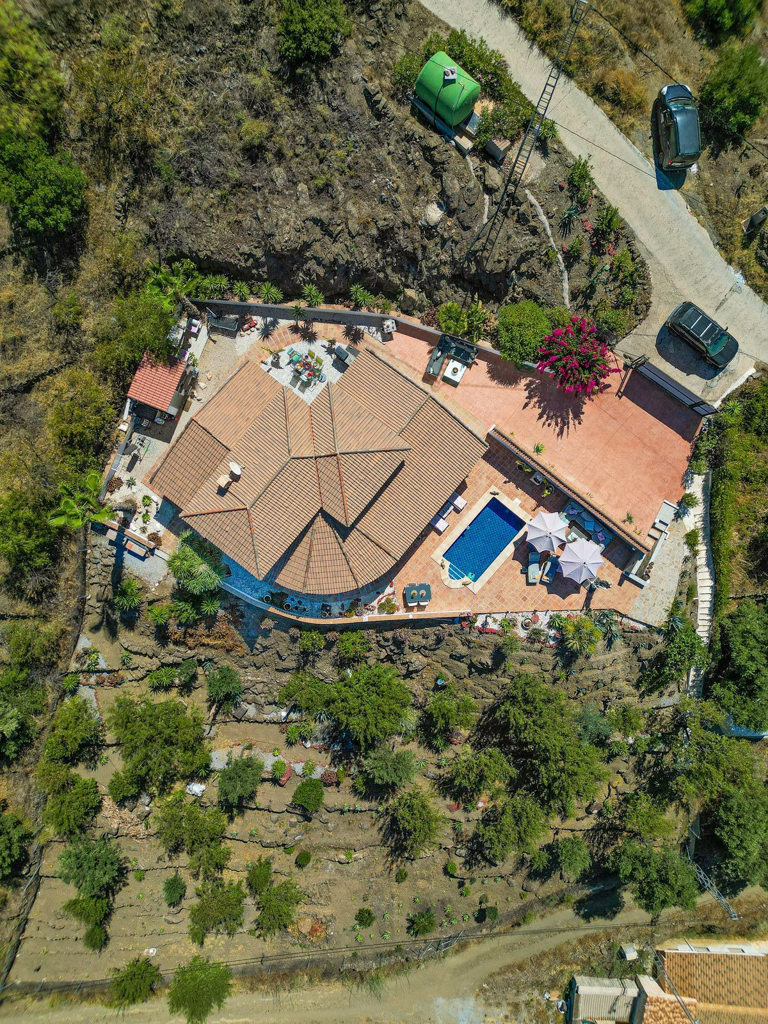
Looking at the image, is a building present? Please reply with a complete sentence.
Yes, looking at the shot, I can spot a building.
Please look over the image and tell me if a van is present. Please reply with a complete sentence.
Yes, the photo shows a van.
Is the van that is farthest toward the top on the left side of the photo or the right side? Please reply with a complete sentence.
It is on the right.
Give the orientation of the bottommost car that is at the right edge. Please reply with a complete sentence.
What the image shows is the bottommost car that is at the right edge lying on a diagonal.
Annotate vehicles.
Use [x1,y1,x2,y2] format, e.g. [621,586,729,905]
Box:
[659,86,702,165]
[661,299,741,369]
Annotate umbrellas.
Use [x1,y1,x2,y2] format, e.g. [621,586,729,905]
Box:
[558,540,603,584]
[527,513,567,553]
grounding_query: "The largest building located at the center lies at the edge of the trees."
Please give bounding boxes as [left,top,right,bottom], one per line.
[149,348,489,594]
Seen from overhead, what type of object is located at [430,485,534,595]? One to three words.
swimming pool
